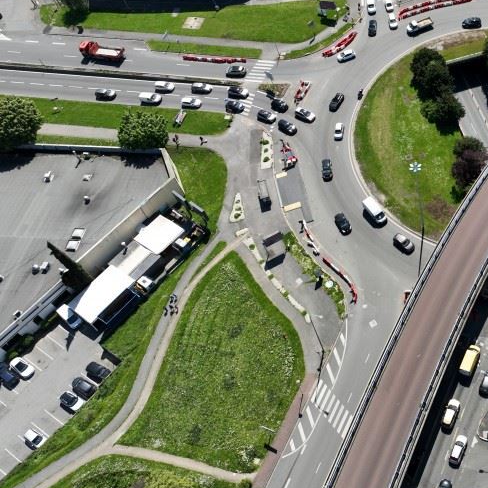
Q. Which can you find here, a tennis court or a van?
van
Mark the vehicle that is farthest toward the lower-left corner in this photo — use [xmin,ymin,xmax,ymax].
[20,425,51,452]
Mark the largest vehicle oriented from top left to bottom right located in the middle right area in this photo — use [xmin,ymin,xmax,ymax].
[360,196,388,225]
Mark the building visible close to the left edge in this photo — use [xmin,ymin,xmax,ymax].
[0,152,186,363]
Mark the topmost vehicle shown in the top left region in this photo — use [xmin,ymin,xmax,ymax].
[81,41,122,61]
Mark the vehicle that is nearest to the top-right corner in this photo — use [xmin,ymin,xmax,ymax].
[462,17,482,29]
